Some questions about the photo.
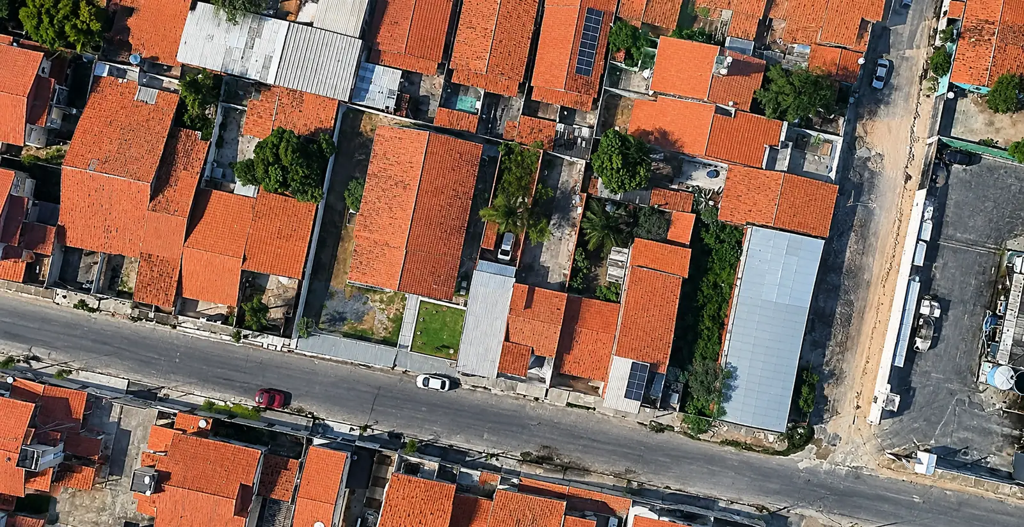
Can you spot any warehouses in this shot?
Yes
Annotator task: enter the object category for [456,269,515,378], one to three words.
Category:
shed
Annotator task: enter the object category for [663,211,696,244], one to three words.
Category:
house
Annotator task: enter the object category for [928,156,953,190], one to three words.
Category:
car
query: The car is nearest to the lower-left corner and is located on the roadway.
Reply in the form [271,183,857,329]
[255,390,286,407]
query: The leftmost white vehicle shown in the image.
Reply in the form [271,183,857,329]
[417,374,451,391]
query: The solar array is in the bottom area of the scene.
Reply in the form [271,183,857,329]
[626,364,648,401]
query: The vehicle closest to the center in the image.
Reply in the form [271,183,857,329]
[496,229,515,263]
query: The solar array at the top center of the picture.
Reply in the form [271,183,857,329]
[575,7,603,76]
